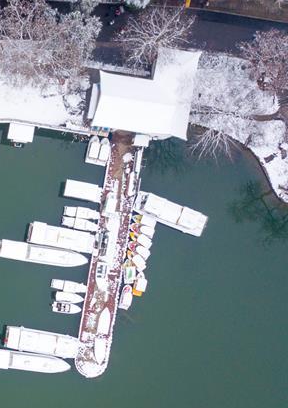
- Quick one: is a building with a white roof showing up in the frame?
Yes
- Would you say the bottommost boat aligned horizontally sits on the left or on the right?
left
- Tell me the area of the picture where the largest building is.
top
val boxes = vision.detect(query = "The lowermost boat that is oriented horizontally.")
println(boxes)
[0,347,70,370]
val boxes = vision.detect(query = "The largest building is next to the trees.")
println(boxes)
[93,47,202,140]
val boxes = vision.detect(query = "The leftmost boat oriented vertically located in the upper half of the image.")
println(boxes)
[83,136,100,164]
